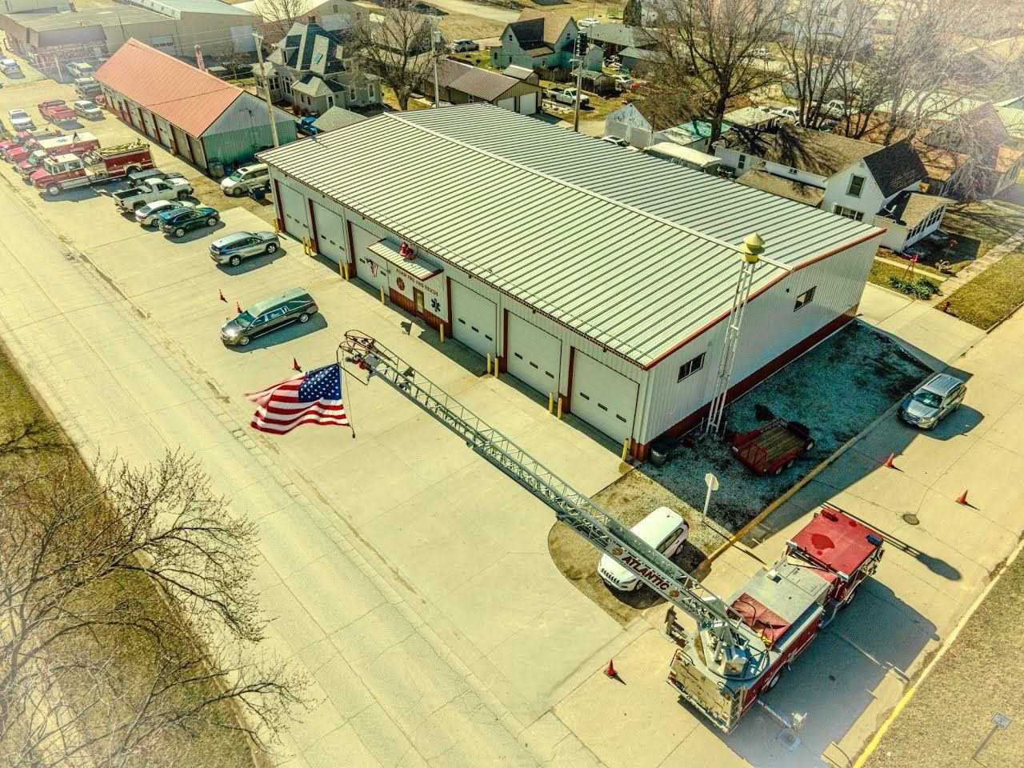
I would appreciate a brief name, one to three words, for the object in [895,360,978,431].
car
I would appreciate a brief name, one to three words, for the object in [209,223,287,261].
car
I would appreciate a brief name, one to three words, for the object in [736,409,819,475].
trailer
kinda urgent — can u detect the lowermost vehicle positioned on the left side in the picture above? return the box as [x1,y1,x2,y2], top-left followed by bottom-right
[216,281,327,346]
